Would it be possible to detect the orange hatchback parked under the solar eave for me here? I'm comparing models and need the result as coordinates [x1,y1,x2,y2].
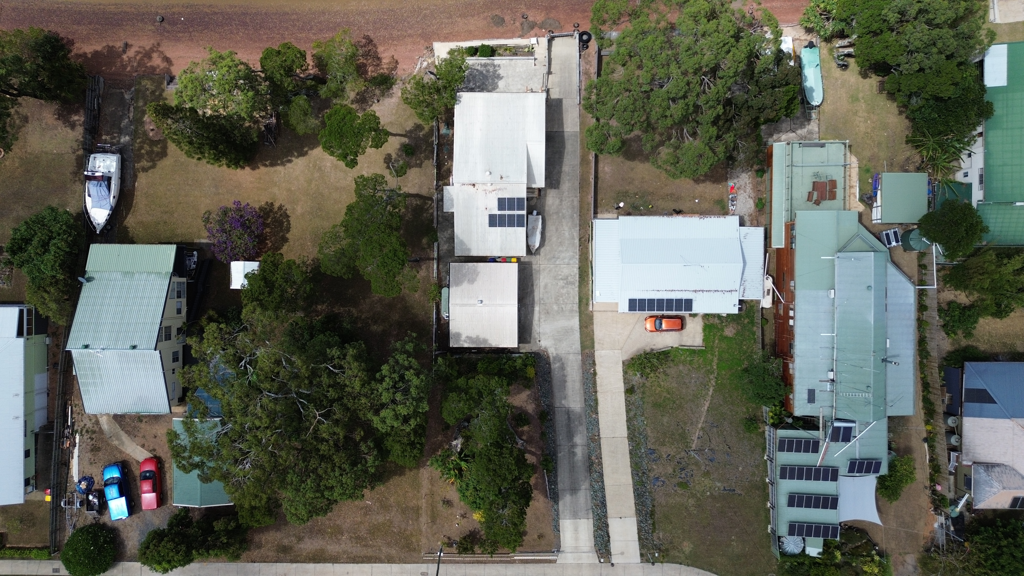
[643,315,684,334]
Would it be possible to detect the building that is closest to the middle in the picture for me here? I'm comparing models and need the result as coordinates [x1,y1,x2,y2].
[449,261,519,349]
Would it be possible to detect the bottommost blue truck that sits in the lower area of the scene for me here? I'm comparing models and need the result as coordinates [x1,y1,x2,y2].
[102,460,133,519]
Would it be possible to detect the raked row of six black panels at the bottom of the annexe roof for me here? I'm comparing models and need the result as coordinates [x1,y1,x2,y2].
[786,520,840,538]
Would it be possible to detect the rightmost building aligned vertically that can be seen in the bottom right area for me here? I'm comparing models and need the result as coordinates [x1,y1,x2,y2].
[957,360,1024,510]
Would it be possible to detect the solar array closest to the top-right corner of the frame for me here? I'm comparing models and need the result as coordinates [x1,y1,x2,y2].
[883,228,901,247]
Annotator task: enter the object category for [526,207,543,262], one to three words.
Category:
boat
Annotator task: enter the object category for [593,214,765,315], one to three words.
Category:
house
